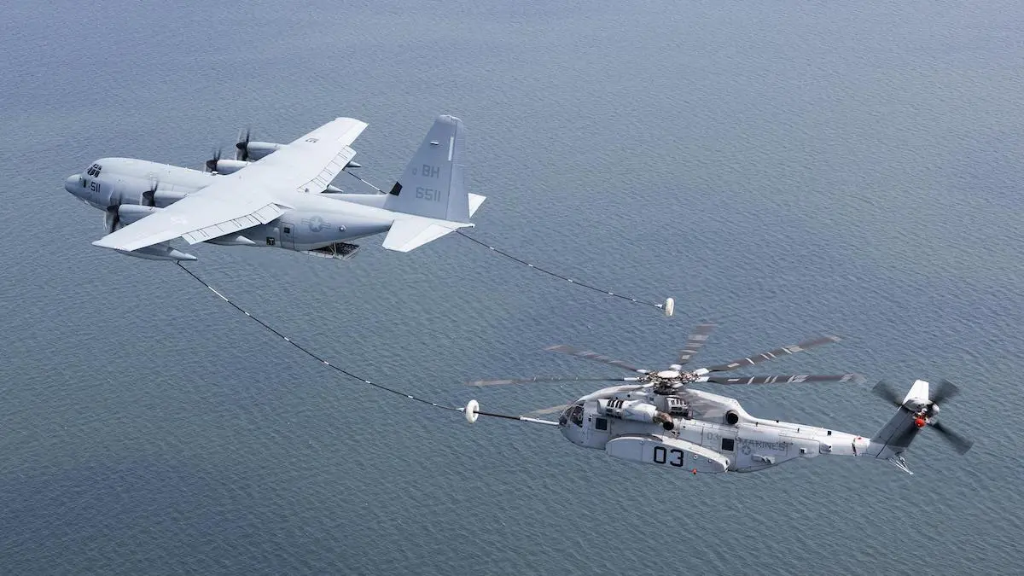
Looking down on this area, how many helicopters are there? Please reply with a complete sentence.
In total, there is 1 helicopter in the scene.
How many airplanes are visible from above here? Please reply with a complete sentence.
In total, there is 1 airplane in the scene.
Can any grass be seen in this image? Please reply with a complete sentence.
No, there's no grass in this view.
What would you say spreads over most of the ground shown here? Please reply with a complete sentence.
Most of the picture is covered by water.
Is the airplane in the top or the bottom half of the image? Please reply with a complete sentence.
The airplane is in the top half of the image.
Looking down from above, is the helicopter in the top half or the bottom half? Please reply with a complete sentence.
Seen from above, the helicopter lies in the bottom half of the view.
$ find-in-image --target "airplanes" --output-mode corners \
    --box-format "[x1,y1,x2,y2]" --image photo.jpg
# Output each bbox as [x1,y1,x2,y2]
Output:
[64,117,485,264]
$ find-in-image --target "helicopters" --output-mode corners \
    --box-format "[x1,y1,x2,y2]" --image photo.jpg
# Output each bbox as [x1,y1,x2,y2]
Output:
[471,326,974,475]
